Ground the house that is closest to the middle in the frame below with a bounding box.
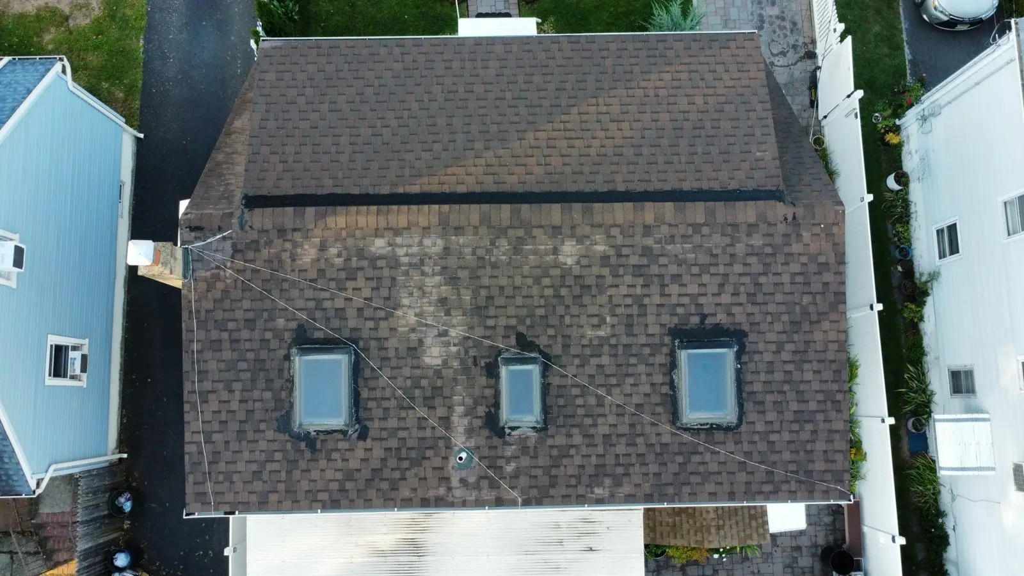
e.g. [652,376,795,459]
[127,27,853,520]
